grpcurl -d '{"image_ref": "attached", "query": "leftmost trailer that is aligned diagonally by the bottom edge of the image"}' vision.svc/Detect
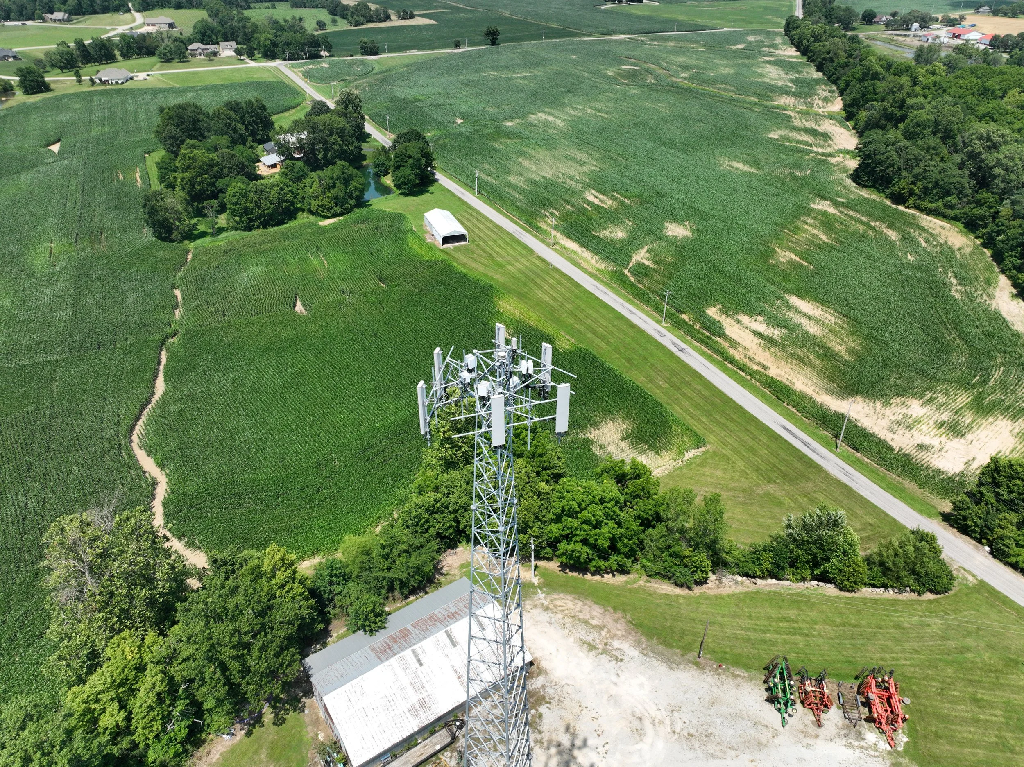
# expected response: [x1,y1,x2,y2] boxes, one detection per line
[396,720,466,767]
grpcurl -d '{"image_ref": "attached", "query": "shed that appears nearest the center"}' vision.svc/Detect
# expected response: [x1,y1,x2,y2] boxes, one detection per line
[423,209,469,247]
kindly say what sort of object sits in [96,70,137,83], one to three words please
house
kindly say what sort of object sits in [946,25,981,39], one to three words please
barn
